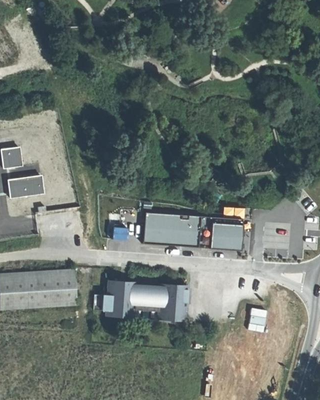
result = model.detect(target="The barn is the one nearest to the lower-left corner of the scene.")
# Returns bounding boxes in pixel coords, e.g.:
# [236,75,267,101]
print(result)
[0,270,78,312]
